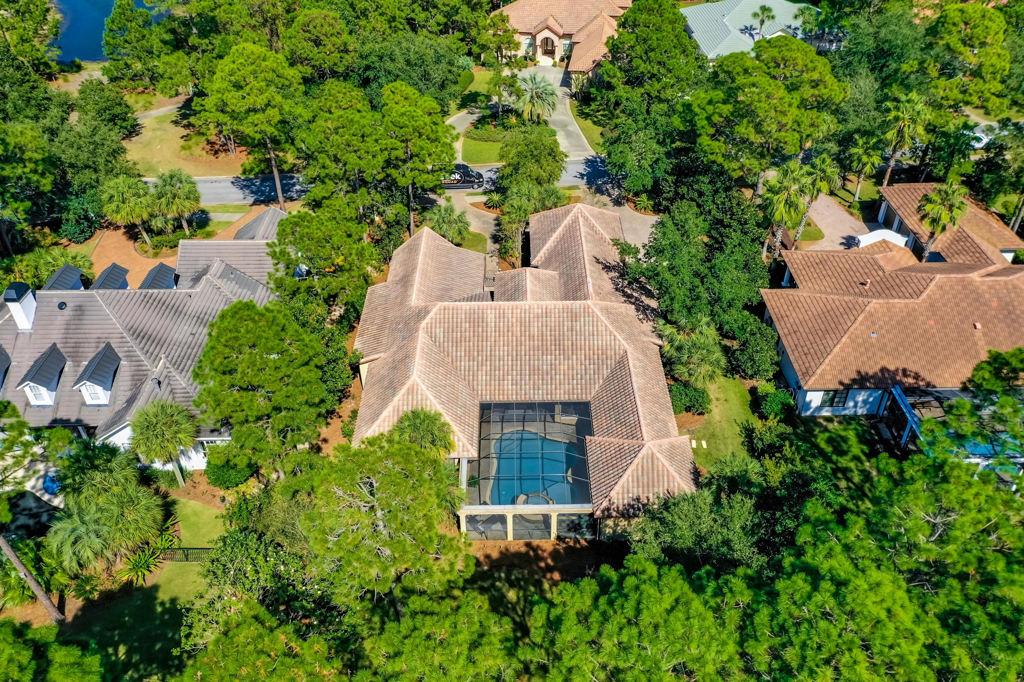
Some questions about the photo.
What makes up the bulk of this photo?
trees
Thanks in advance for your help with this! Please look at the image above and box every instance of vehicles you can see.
[435,161,485,189]
[954,131,994,148]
